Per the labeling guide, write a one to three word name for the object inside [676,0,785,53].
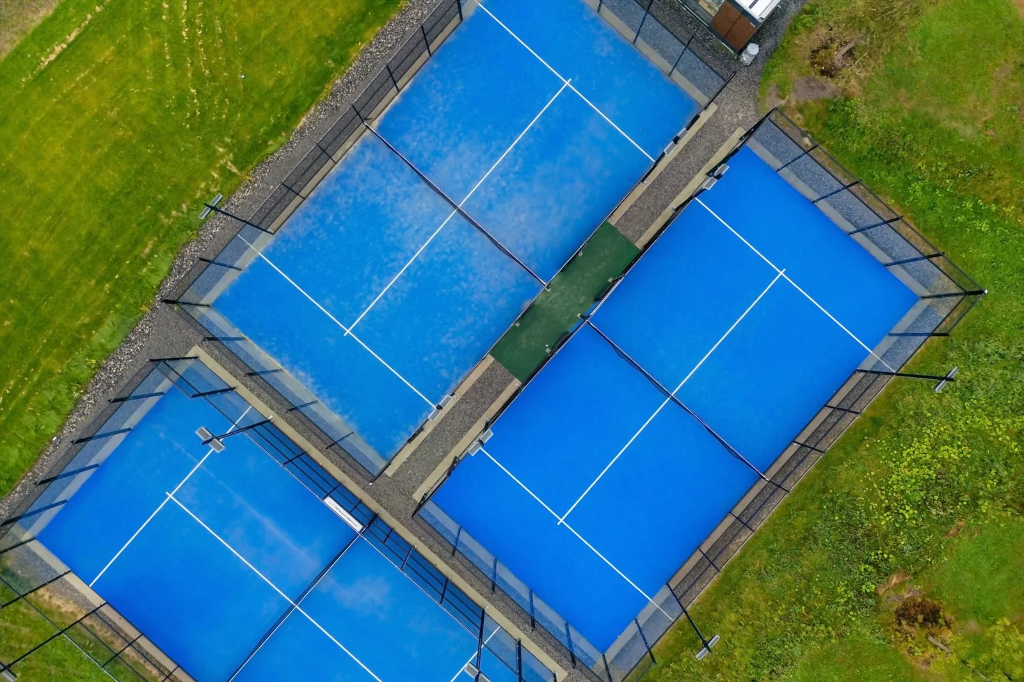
shed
